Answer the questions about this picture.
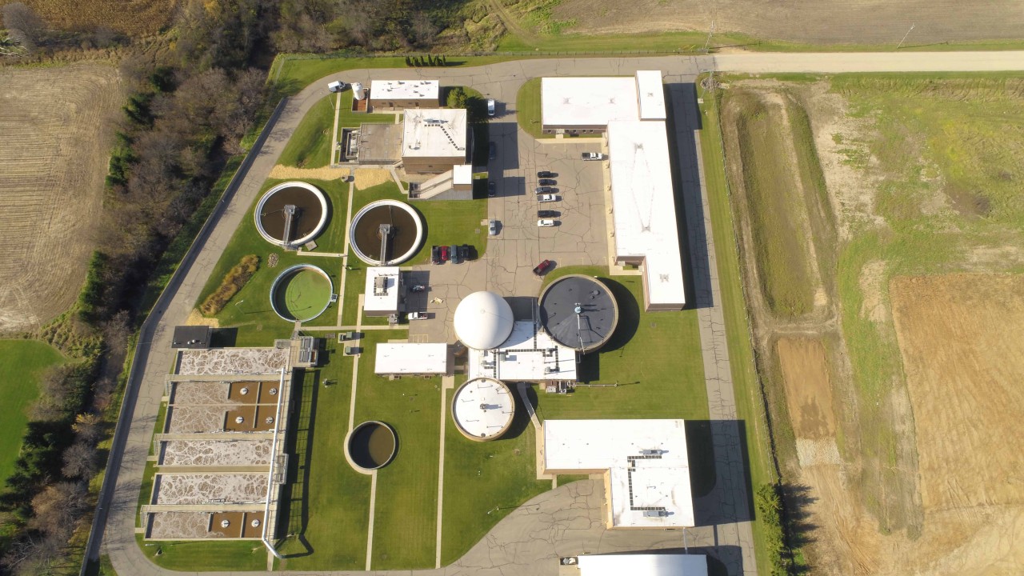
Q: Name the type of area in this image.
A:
industrial area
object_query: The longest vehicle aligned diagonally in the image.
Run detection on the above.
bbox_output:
[531,257,554,276]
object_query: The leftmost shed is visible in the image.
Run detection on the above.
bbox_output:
[172,325,213,351]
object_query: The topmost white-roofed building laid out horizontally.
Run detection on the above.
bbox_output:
[370,80,440,108]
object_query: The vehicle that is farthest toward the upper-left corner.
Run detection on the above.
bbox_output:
[324,79,347,92]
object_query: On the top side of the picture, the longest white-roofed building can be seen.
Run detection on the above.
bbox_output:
[541,70,685,313]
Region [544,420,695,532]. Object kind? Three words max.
building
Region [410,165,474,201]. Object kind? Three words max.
building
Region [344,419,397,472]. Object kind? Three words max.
storage tank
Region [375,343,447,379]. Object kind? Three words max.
shed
